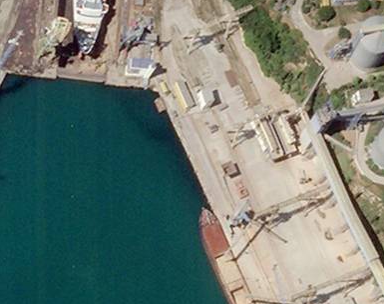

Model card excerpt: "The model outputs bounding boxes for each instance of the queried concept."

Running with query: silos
[369,127,384,172]
[351,18,384,68]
